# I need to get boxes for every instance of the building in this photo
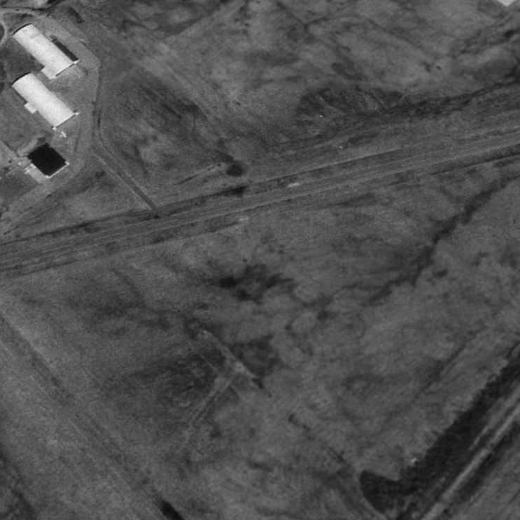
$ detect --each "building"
[12,24,79,80]
[11,73,78,131]
[28,142,71,181]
